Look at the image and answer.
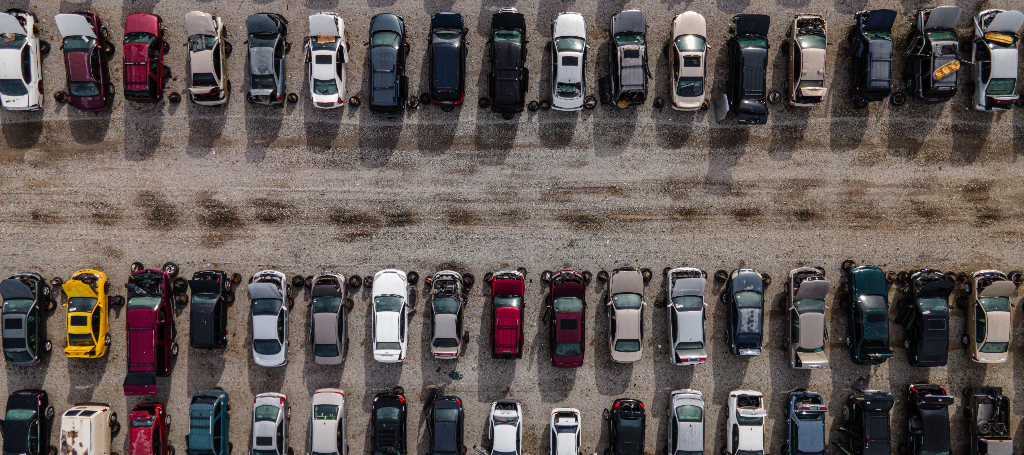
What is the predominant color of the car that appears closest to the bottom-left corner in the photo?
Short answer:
black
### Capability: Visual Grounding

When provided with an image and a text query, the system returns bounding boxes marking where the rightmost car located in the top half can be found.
[972,10,1021,111]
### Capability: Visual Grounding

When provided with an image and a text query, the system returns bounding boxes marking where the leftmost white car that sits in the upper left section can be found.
[0,9,46,110]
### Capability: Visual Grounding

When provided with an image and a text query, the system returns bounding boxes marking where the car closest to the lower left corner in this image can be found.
[1,389,52,455]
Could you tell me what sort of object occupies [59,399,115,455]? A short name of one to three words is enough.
van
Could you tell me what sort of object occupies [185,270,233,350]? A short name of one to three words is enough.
car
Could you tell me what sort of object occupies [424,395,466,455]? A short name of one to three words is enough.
car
